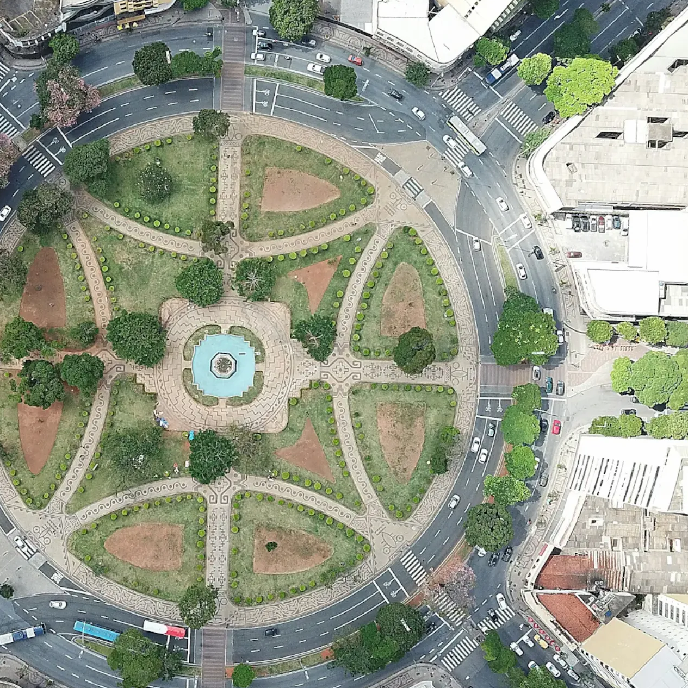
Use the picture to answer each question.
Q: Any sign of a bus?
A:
Yes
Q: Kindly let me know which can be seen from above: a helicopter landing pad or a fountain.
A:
fountain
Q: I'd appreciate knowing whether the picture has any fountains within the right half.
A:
No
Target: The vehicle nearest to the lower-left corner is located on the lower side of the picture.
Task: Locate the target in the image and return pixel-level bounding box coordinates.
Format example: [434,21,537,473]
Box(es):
[0,624,47,642]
